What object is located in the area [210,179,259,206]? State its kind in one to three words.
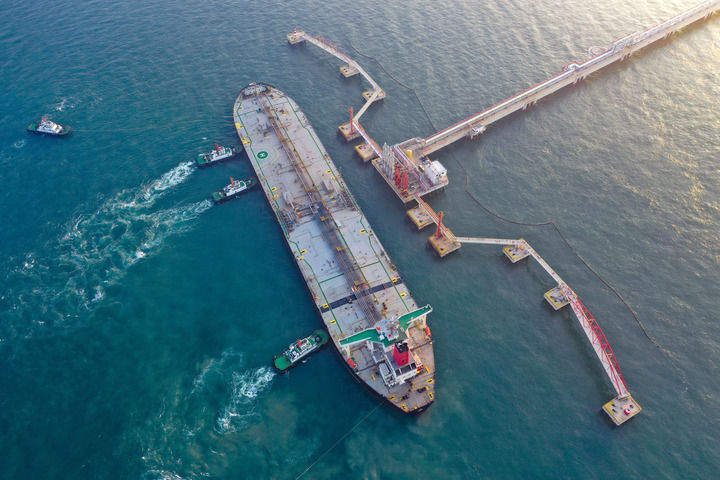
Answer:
boat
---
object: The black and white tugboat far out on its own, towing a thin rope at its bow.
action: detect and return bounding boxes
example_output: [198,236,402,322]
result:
[25,114,70,137]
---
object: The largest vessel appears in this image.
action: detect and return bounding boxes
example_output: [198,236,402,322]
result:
[233,77,435,419]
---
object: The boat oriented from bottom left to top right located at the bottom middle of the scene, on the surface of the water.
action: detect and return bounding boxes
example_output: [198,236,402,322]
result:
[271,332,328,373]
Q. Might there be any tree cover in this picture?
No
